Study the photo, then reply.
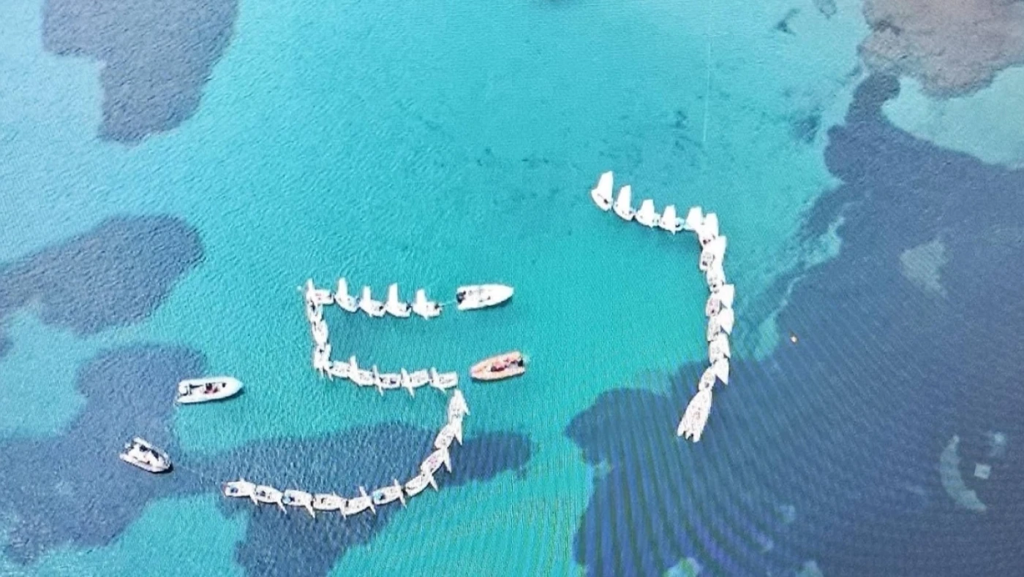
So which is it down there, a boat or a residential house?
boat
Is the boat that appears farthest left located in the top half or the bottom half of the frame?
bottom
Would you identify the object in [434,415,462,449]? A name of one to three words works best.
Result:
boat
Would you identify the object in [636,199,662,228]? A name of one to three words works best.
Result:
boat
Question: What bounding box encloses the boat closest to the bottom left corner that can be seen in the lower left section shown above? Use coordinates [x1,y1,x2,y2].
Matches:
[120,438,169,470]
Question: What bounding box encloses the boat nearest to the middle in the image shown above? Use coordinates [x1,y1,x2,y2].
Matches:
[456,284,514,309]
